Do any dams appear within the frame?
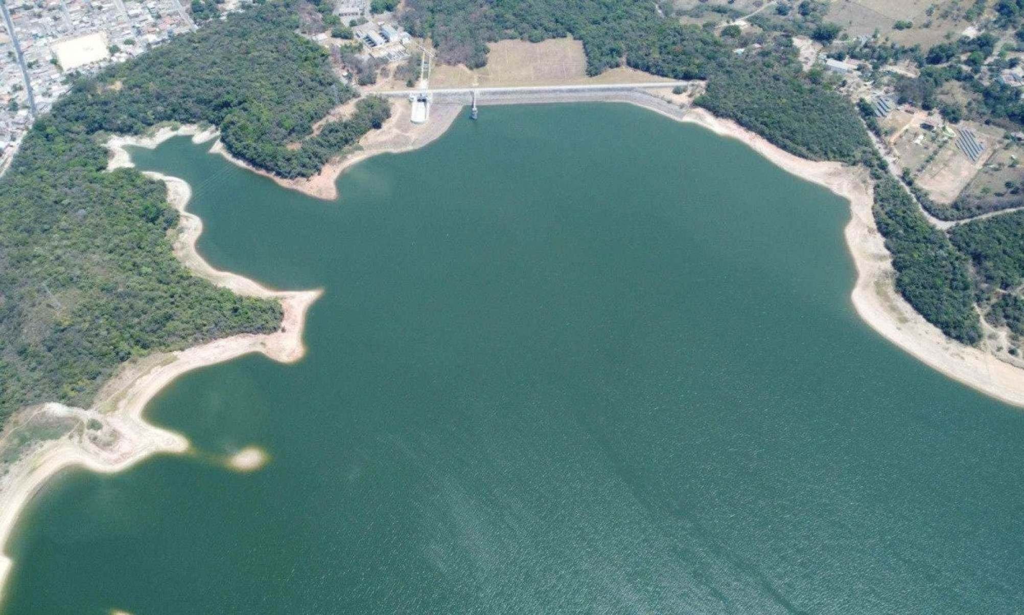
Yes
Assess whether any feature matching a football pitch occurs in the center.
No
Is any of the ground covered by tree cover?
Yes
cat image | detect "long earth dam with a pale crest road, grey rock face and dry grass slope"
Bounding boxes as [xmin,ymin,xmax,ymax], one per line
[371,36,702,108]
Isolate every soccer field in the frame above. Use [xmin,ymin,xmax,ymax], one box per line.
[58,34,109,71]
